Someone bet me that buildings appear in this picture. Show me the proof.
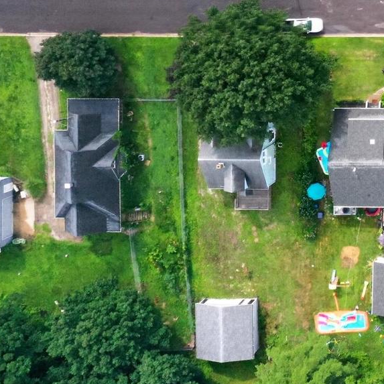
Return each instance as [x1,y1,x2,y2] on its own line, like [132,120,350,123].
[371,259,384,316]
[0,177,15,252]
[53,98,128,237]
[329,107,384,209]
[195,299,259,363]
[197,125,276,192]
